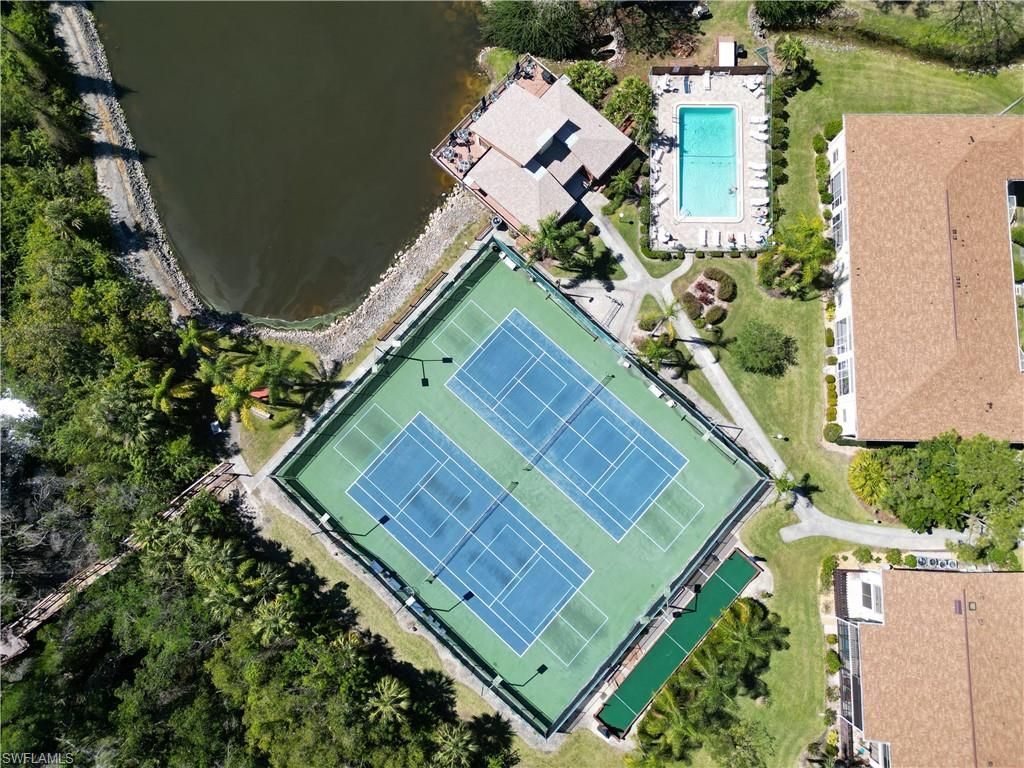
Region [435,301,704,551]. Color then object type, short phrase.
blue tennis court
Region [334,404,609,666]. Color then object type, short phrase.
blue tennis court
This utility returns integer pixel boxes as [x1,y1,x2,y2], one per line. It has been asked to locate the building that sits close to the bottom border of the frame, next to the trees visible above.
[834,567,1024,768]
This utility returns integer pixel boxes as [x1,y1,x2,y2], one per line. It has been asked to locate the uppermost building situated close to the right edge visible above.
[831,113,1024,446]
